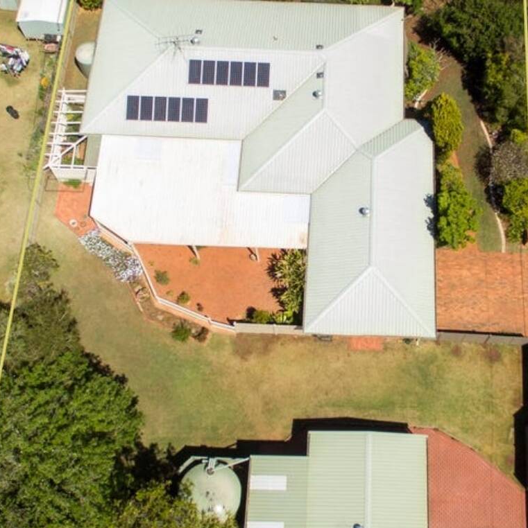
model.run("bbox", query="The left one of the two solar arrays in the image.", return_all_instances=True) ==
[127,95,206,125]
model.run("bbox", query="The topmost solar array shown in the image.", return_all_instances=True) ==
[188,60,268,89]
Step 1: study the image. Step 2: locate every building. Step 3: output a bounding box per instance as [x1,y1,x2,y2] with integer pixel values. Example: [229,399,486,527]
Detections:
[80,0,437,340]
[17,0,77,38]
[243,430,430,528]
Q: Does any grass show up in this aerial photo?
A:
Yes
